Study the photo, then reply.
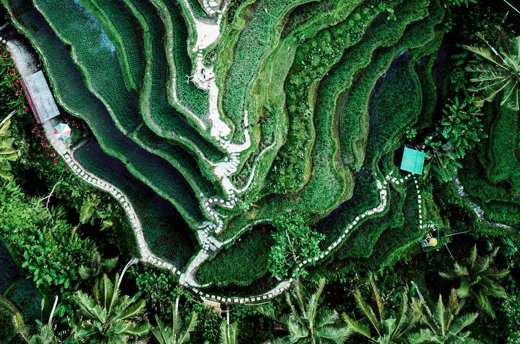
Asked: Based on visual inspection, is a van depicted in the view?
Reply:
No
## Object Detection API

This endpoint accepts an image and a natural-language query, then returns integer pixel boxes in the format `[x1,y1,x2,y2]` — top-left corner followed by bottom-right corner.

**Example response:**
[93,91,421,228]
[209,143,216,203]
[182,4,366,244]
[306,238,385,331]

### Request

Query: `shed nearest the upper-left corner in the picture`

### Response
[19,67,61,124]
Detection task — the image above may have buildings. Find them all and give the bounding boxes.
[19,67,61,124]
[397,145,426,176]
